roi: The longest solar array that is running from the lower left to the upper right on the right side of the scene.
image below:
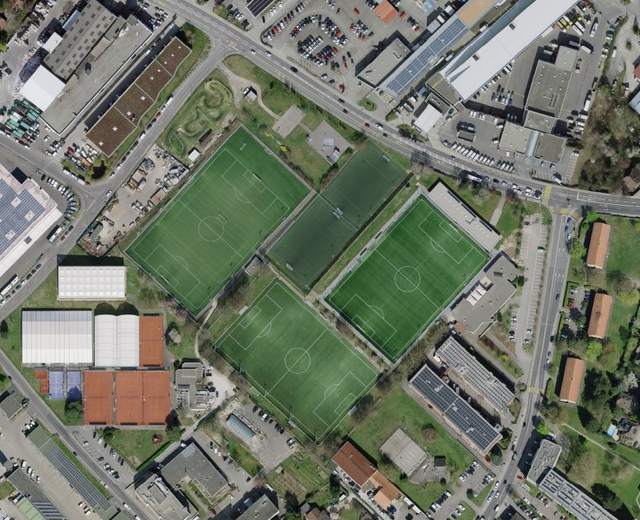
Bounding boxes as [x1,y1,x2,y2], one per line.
[387,19,462,91]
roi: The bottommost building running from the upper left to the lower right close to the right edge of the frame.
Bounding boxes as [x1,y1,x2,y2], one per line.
[539,470,618,520]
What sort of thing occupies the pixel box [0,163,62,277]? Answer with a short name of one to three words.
building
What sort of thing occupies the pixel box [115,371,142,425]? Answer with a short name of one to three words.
tennis court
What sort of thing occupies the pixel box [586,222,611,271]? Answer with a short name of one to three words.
house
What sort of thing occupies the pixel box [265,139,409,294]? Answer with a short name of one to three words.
sports field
